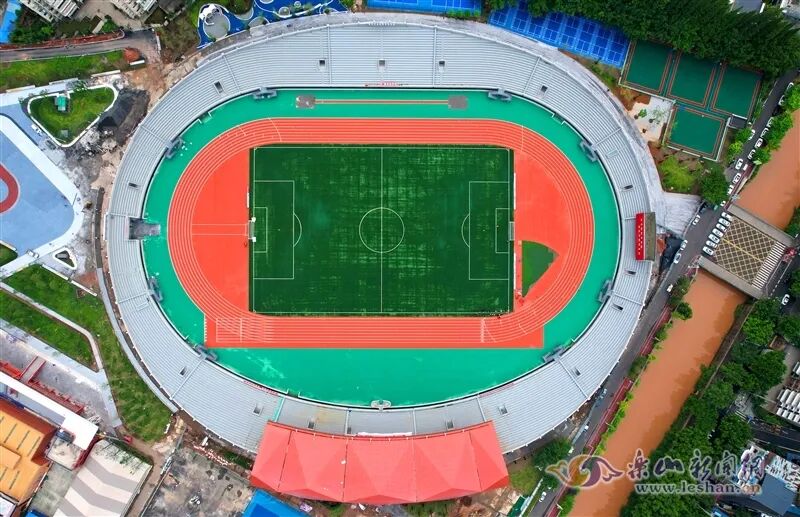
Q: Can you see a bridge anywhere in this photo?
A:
Yes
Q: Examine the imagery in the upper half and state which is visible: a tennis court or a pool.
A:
tennis court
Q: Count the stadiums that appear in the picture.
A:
1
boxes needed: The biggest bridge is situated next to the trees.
[697,203,795,299]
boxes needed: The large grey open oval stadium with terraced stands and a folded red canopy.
[103,19,659,503]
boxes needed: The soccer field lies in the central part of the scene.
[249,143,514,317]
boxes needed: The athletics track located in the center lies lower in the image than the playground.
[167,118,594,349]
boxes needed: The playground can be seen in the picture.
[197,0,349,49]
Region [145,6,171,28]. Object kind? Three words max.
shed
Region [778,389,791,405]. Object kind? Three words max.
vehicle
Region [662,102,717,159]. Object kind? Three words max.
tennis court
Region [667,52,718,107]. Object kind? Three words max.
tennis court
